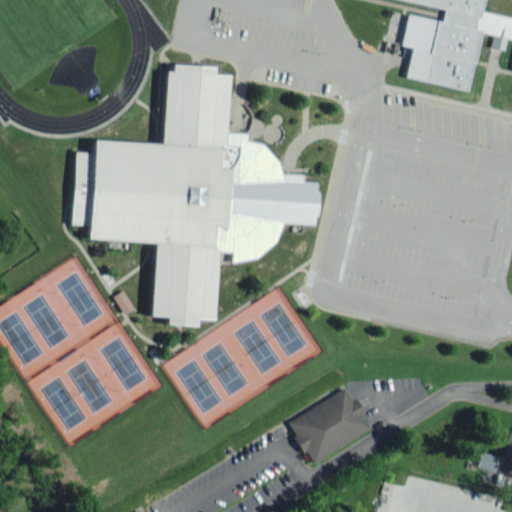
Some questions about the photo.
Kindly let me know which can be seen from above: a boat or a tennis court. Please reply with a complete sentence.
Visible in the photo is a tennis court.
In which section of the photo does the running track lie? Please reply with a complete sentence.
Look in the top left portion of the view to spot the running track.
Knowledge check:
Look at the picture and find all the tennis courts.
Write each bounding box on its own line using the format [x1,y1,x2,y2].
[178,360,222,412]
[102,338,146,390]
[262,304,306,356]
[0,313,42,364]
[202,346,246,396]
[24,296,68,347]
[42,378,86,430]
[236,322,280,373]
[58,274,102,325]
[68,361,112,412]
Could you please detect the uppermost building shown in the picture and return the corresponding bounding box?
[400,0,512,92]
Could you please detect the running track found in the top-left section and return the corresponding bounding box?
[0,0,168,134]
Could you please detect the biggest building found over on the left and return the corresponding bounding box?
[72,64,322,328]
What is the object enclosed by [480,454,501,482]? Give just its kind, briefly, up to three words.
house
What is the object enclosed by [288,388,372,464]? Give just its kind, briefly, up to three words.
building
